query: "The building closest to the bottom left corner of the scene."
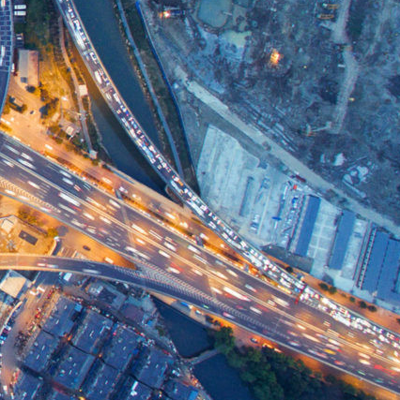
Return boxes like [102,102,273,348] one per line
[11,366,42,400]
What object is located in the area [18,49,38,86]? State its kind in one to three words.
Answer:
shed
